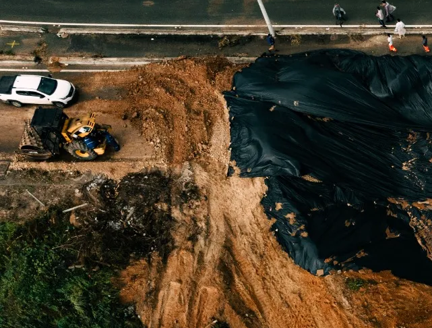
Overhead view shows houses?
No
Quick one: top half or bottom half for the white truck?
top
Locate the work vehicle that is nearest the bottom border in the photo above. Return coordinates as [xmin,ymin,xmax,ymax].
[9,107,101,162]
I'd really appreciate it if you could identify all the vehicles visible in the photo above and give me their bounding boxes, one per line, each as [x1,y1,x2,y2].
[9,107,101,162]
[0,71,79,109]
